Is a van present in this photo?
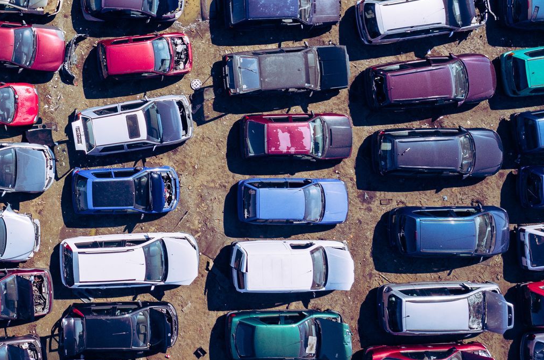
Yes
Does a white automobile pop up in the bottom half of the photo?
Yes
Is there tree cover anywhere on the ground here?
No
